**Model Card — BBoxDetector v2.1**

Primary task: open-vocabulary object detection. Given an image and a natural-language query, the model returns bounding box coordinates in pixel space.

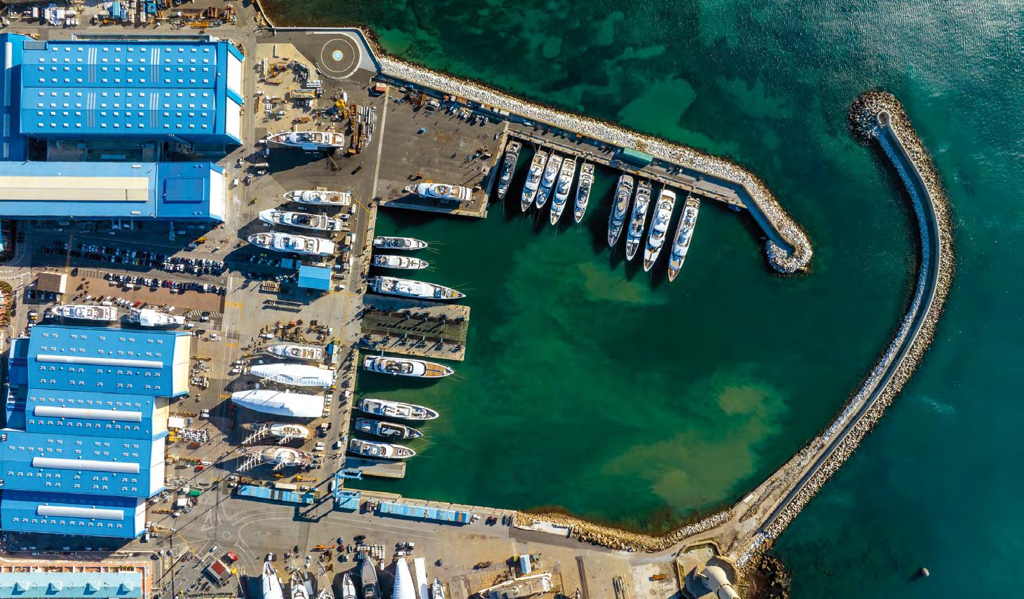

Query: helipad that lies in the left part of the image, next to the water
[314,31,363,80]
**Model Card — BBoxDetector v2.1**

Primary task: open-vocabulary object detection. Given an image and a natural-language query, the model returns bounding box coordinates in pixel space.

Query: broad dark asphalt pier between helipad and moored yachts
[373,76,510,218]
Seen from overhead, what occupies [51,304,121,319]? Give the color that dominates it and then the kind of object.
white boat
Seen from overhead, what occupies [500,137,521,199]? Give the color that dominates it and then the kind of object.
gray boat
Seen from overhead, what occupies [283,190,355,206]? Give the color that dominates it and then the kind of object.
white boat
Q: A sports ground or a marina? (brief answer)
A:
marina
